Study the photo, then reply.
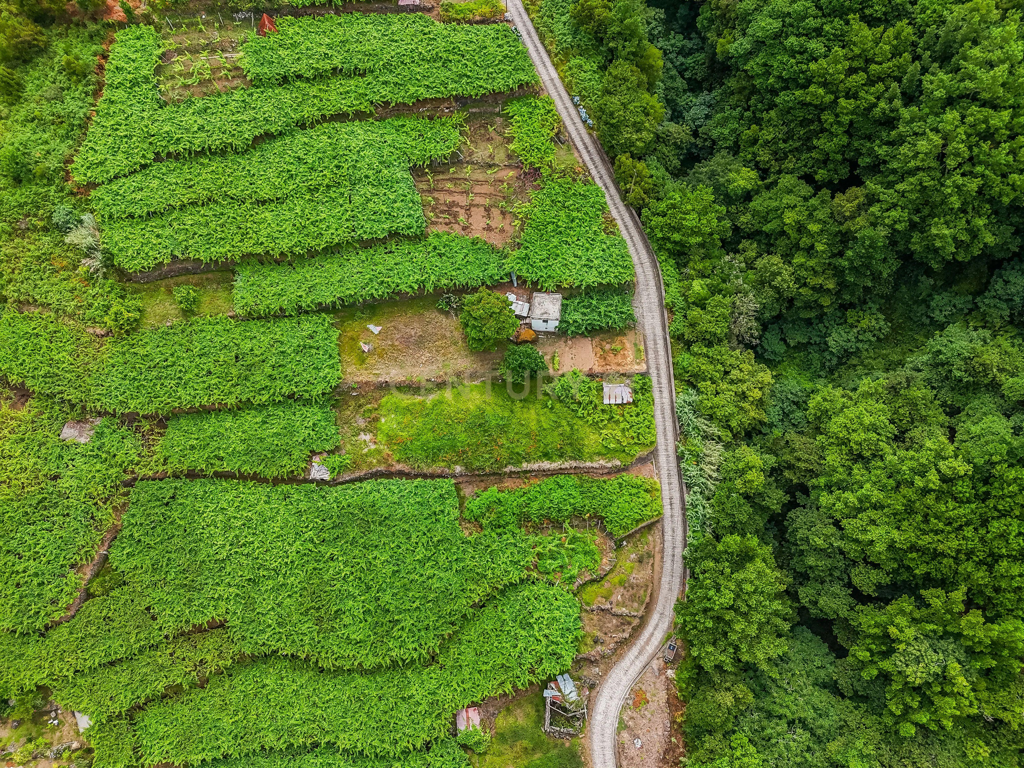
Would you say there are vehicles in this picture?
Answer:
No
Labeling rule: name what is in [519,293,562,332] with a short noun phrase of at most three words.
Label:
house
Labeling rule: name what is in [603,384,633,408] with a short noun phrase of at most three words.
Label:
shed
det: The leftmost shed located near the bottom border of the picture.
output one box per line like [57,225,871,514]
[456,706,480,730]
